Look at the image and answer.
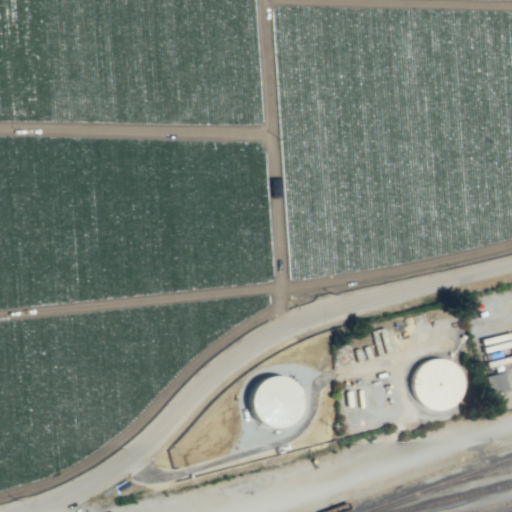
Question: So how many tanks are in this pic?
2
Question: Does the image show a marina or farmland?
farmland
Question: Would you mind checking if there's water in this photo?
No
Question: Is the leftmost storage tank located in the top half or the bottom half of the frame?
bottom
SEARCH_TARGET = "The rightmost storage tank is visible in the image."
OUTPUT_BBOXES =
[409,357,468,416]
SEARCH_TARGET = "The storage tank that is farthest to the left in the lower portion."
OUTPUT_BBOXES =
[250,376,306,431]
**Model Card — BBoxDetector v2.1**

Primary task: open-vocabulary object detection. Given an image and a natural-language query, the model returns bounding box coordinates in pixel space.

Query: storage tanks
[250,376,306,431]
[409,357,468,416]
